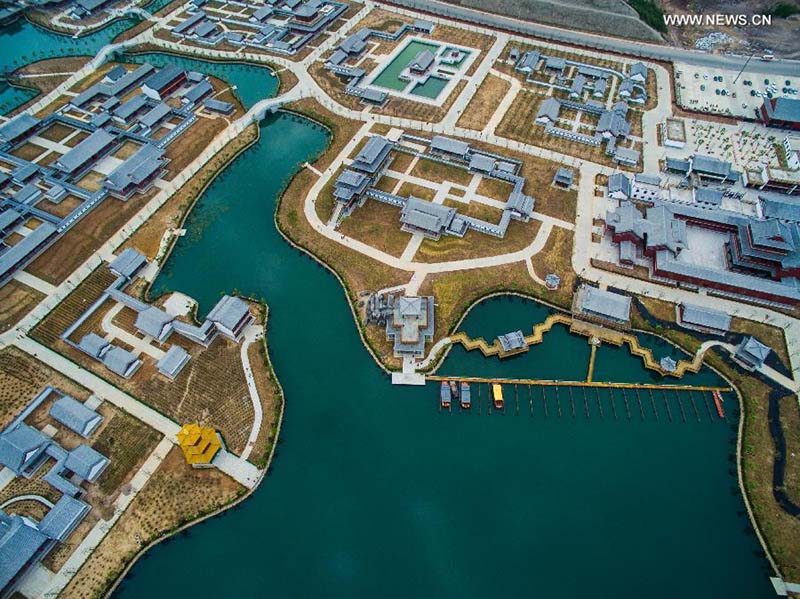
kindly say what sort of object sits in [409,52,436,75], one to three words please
building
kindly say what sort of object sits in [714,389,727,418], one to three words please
boat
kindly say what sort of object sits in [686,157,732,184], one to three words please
house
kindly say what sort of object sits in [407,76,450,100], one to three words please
swimming pool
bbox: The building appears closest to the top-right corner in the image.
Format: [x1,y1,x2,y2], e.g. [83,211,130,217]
[763,98,800,131]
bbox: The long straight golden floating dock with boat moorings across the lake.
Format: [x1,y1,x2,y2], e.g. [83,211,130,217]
[424,374,734,391]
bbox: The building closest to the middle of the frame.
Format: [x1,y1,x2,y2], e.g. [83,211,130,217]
[387,294,434,356]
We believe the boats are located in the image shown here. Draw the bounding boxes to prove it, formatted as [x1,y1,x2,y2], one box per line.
[493,383,505,409]
[451,379,458,398]
[461,381,471,409]
[714,389,727,418]
[441,381,451,408]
